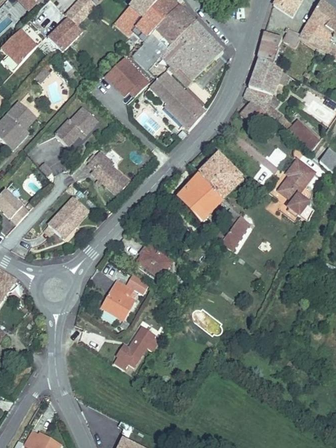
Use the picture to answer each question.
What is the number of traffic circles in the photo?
1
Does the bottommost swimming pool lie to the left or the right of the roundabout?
to its right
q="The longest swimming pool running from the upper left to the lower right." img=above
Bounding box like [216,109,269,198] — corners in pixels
[192,308,224,338]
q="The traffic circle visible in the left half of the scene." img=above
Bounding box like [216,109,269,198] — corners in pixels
[20,258,86,345]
